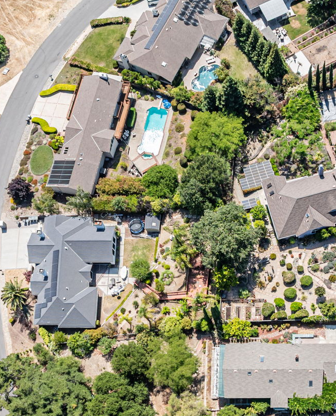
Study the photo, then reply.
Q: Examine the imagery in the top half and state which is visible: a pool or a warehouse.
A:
pool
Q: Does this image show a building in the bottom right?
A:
Yes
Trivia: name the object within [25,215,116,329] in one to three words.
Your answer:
house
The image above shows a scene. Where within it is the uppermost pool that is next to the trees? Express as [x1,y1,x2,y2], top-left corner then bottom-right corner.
[190,63,220,93]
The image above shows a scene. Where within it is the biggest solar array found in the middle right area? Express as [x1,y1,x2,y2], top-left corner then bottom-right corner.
[243,161,275,186]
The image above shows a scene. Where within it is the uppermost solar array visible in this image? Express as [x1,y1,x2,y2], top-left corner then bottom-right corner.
[144,0,178,49]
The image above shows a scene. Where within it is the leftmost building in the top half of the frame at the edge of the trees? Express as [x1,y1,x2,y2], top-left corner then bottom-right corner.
[46,73,122,198]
